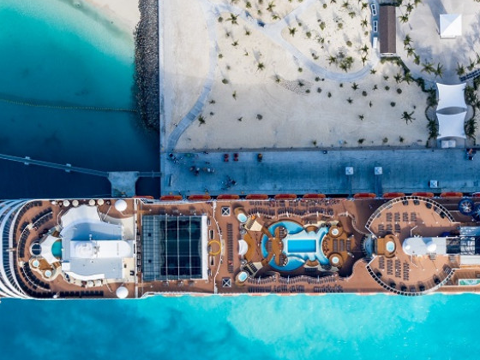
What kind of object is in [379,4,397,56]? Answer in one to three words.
building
